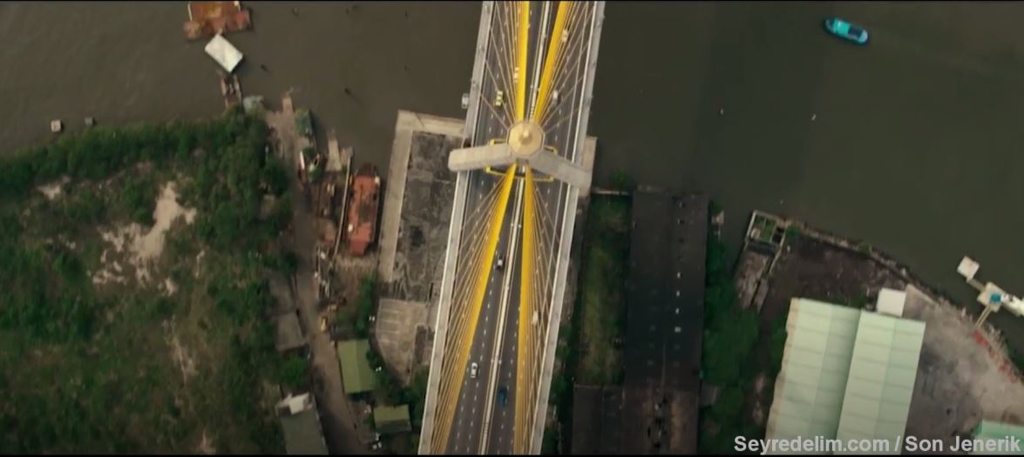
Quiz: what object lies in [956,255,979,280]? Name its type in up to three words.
pier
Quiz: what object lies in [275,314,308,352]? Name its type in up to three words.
shed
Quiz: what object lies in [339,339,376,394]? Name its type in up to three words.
shed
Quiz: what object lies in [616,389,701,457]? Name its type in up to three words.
building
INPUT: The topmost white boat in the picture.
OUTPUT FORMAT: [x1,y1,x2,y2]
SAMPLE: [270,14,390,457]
[206,36,244,71]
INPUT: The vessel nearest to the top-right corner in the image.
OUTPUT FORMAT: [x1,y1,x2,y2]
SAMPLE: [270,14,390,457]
[825,17,870,45]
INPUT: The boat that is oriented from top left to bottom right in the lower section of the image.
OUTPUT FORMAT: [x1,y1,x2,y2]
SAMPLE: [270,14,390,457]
[999,293,1024,315]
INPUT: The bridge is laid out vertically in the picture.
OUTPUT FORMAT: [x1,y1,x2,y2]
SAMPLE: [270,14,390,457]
[418,0,605,457]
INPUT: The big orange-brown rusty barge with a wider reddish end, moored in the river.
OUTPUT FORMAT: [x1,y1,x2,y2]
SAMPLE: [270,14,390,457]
[186,0,255,40]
